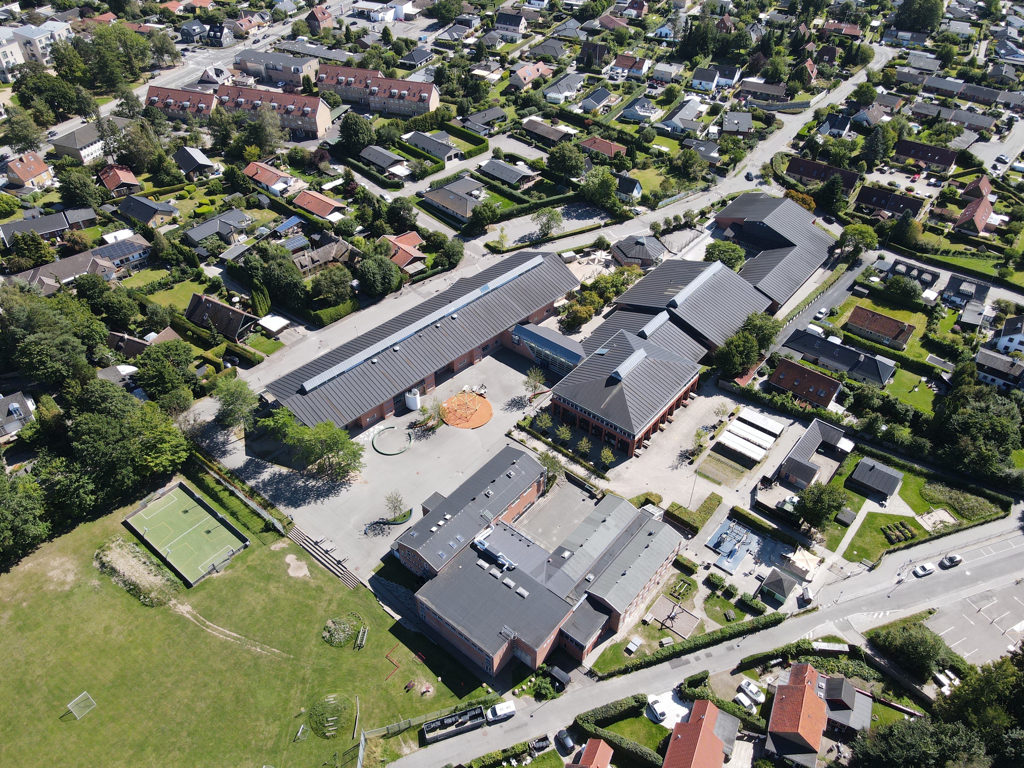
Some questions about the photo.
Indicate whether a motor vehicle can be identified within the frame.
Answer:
Yes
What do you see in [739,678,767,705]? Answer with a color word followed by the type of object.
white car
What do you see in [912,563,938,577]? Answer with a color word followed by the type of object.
white car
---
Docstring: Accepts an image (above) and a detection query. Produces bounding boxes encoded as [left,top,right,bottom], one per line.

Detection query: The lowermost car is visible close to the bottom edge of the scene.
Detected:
[554,727,578,757]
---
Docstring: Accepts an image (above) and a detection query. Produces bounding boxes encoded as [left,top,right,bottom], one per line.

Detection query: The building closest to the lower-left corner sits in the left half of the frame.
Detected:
[0,389,35,435]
